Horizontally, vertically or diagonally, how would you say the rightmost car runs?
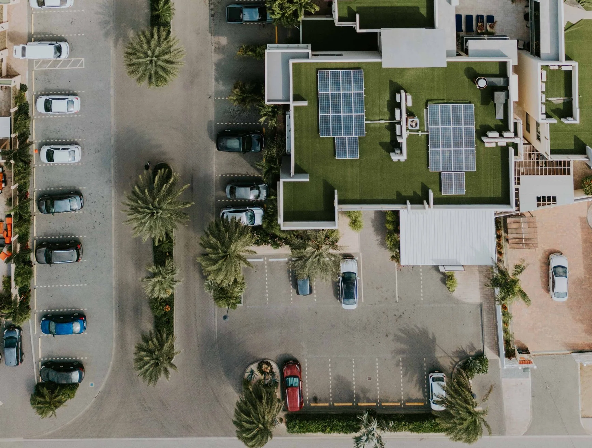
vertically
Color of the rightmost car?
white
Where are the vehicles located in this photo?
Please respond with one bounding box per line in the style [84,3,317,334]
[338,258,361,309]
[293,253,314,296]
[37,240,82,267]
[220,203,264,227]
[217,130,265,153]
[226,180,268,203]
[428,370,446,410]
[547,252,571,301]
[14,40,70,61]
[39,191,83,216]
[280,360,304,414]
[40,361,85,385]
[41,312,86,337]
[41,143,81,165]
[37,94,80,116]
[1,327,24,367]
[30,0,73,10]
